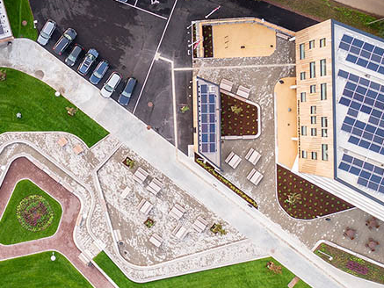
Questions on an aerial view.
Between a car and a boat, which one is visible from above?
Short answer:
car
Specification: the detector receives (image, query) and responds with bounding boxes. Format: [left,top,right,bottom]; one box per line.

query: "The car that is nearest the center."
[118,76,138,105]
